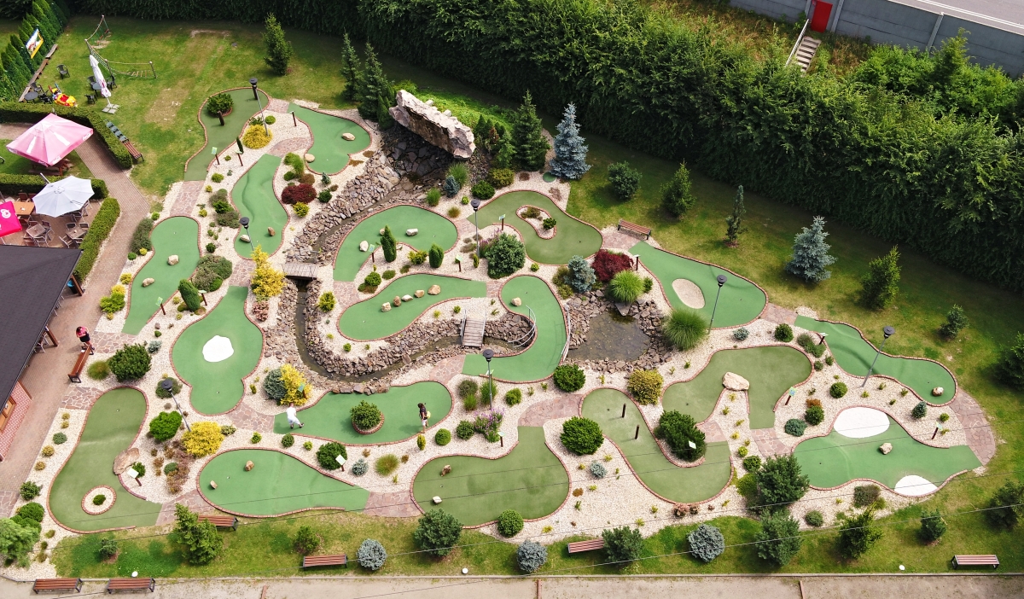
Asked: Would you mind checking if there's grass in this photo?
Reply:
Yes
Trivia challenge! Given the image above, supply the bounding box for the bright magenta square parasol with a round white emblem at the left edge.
[0,202,23,245]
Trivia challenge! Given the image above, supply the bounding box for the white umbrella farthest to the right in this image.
[87,54,124,111]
